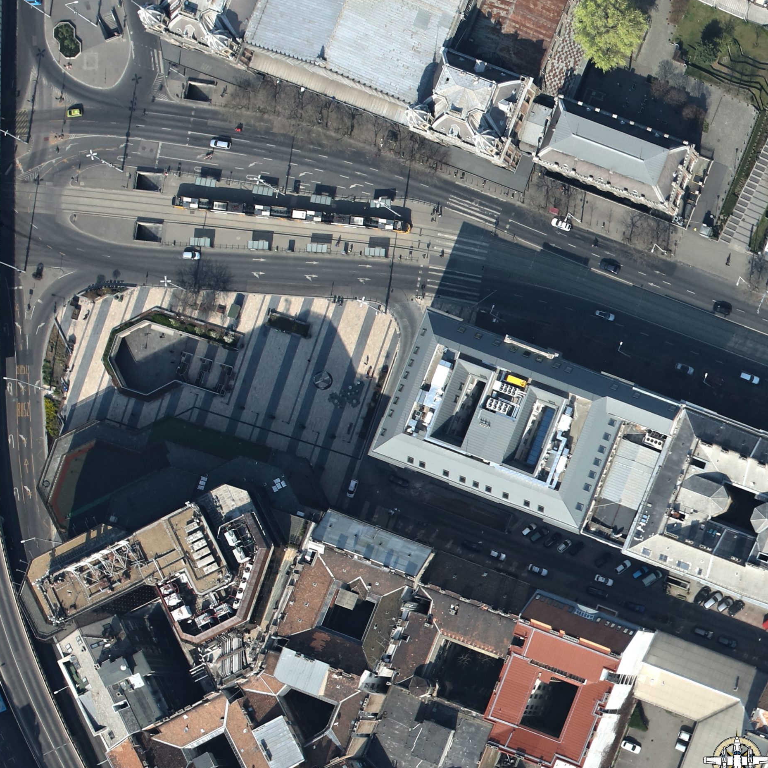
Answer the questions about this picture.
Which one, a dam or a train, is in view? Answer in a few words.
train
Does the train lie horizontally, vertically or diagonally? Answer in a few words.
horizontally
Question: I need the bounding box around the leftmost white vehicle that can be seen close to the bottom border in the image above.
[623,740,643,754]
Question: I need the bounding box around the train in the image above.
[174,196,416,235]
